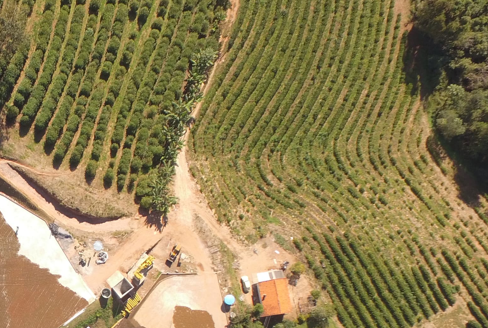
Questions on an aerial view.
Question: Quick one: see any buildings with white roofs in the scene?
No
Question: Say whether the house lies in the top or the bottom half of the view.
bottom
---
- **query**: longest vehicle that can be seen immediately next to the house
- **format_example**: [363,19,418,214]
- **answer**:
[240,275,253,294]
